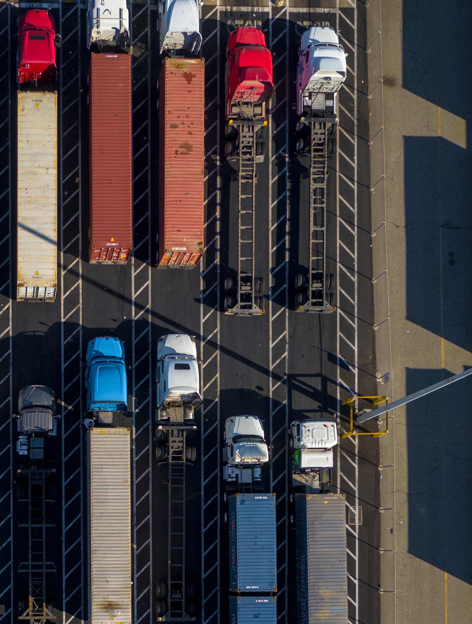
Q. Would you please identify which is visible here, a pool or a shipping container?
shipping container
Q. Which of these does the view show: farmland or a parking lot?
parking lot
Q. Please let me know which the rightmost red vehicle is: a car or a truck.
truck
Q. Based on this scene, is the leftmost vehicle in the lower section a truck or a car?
truck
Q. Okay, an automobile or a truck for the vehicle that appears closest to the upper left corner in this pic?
truck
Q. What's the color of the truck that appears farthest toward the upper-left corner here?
red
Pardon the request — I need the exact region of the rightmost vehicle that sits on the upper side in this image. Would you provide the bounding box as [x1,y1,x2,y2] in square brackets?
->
[297,27,350,164]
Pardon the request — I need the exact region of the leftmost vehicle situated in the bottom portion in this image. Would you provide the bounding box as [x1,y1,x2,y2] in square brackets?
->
[13,384,62,514]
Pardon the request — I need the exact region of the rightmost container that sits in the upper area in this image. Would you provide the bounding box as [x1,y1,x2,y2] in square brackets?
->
[160,57,205,266]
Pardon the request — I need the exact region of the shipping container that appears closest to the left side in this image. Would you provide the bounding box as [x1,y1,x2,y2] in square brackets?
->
[17,91,57,299]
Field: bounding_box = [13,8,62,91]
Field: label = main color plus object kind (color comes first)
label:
red truck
